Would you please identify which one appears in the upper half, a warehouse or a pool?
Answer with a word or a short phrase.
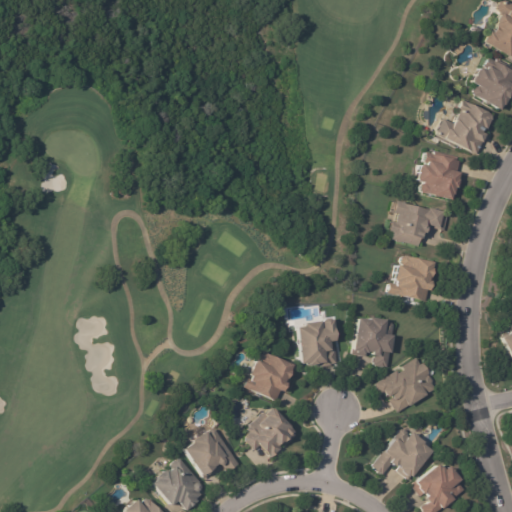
pool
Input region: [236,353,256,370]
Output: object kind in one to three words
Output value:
swimming pool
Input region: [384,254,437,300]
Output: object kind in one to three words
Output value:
house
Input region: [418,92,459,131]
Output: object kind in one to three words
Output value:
swimming pool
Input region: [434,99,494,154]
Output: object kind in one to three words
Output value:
house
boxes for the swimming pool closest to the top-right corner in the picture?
[470,0,497,30]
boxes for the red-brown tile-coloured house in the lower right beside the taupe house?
[410,462,464,512]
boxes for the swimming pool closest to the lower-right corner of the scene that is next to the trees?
[423,426,442,444]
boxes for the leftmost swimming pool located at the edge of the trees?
[110,484,130,504]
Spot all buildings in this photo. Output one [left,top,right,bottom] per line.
[374,357,436,413]
[298,321,340,364]
[153,458,205,510]
[370,428,430,476]
[384,254,437,300]
[418,150,465,199]
[472,56,512,108]
[387,202,445,244]
[242,354,295,400]
[410,462,464,512]
[121,498,162,512]
[184,428,240,476]
[350,320,394,367]
[434,99,494,154]
[499,328,512,359]
[242,409,295,457]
